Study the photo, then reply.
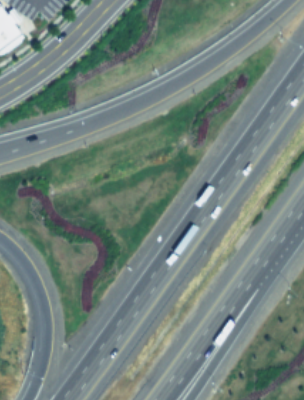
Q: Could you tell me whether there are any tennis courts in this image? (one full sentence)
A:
No, I find no tennis court anywhere in the image.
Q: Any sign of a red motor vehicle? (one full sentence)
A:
No, the photo shows no red motor vehicle.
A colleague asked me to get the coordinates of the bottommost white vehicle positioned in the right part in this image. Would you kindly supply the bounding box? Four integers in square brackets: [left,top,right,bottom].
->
[216,318,236,345]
